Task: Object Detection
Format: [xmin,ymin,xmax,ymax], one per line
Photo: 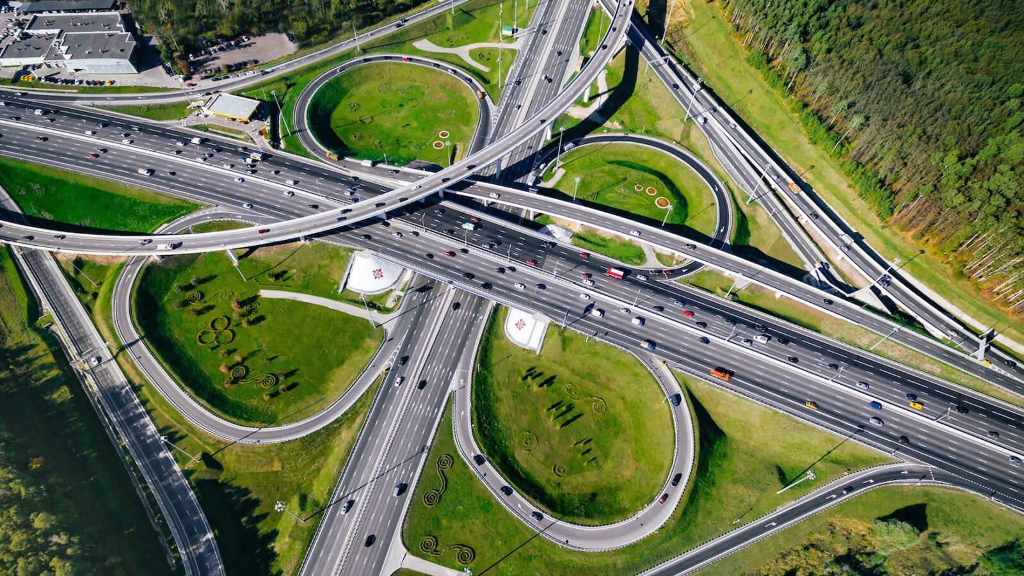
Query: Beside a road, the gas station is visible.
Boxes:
[208,94,261,123]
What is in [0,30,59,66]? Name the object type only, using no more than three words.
building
